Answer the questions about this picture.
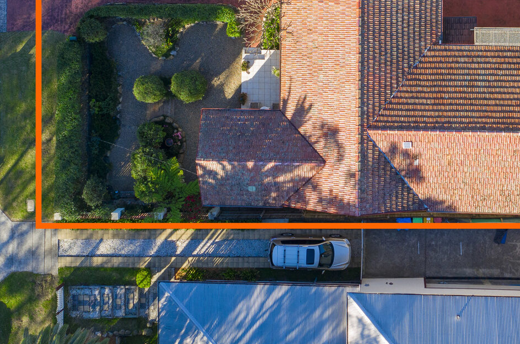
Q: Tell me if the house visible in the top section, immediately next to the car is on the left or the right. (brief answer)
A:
right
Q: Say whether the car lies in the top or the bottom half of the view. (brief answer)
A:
bottom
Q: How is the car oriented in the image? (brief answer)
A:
horizontally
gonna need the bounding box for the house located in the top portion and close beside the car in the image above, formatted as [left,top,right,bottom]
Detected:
[196,0,520,217]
